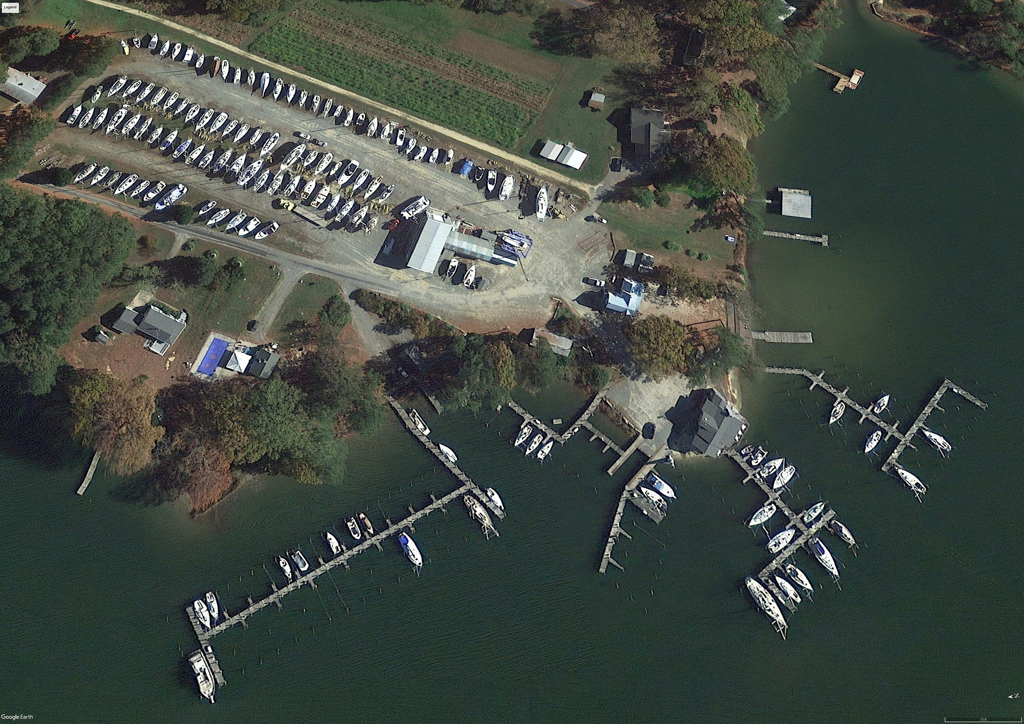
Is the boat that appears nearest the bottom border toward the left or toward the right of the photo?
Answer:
left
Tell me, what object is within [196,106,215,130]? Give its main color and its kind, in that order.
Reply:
white boat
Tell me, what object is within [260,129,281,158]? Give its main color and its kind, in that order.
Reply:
white boat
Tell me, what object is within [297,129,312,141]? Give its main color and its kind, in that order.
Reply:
white vehicle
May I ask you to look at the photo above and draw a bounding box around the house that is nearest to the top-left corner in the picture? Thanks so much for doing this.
[0,69,47,104]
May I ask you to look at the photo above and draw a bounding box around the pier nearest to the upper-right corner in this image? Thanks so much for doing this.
[812,62,852,93]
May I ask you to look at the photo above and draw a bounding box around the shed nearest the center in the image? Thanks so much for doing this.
[535,327,572,355]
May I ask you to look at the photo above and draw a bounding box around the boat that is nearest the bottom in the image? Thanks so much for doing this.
[187,648,215,704]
